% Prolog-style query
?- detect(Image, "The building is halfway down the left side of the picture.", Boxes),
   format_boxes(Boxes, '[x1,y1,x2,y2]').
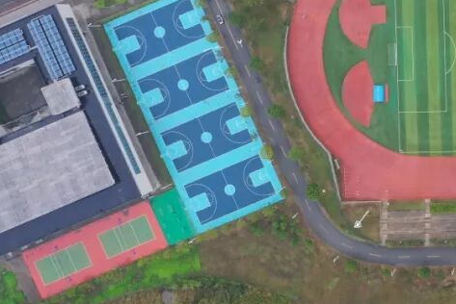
[0,4,153,256]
